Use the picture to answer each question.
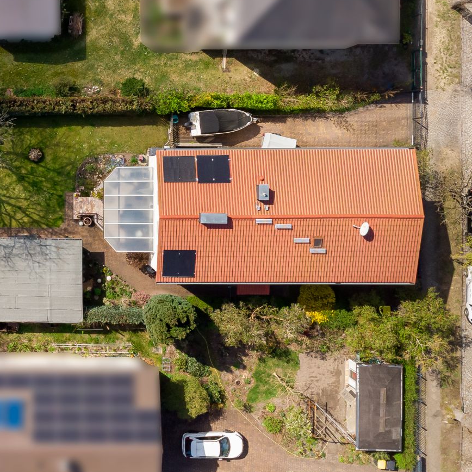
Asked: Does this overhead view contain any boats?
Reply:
Yes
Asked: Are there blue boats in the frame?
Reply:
No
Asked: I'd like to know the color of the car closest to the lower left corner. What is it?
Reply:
white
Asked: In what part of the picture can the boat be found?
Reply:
top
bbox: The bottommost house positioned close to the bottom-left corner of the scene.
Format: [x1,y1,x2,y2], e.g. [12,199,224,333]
[0,349,162,472]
